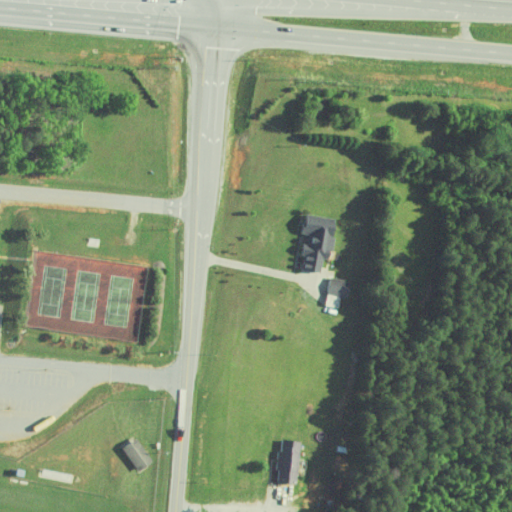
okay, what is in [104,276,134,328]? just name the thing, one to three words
tennis court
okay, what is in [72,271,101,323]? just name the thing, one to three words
tennis court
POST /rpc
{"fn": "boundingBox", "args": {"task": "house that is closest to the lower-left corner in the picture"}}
[123,439,154,473]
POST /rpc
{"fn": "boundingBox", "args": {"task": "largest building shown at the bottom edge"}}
[274,440,302,488]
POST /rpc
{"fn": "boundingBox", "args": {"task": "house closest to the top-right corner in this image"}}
[300,214,338,272]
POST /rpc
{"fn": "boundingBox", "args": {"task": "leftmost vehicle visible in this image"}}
[34,415,56,432]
